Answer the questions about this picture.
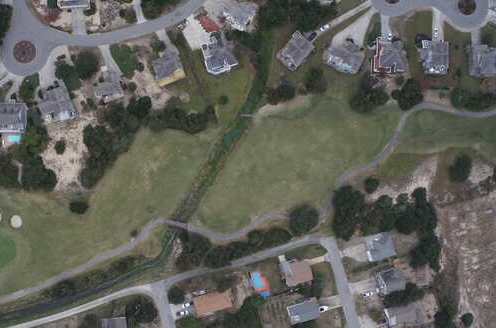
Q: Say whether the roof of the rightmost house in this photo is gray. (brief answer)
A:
Yes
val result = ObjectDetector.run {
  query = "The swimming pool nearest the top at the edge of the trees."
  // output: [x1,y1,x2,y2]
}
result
[1,133,23,148]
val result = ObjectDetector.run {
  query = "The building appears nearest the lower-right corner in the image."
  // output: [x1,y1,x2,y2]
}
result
[384,304,424,328]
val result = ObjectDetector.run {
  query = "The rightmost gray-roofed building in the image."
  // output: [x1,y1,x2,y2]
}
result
[464,43,496,80]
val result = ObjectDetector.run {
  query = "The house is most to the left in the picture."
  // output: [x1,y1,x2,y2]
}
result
[0,103,30,135]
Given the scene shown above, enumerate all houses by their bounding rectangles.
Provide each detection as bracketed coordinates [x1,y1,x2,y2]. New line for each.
[416,39,449,77]
[40,84,77,125]
[94,66,125,104]
[200,35,239,79]
[285,297,321,323]
[464,43,496,80]
[58,0,89,10]
[151,48,186,85]
[277,29,315,74]
[194,289,232,315]
[325,45,367,76]
[372,267,406,293]
[364,233,395,262]
[384,304,424,328]
[102,317,127,328]
[0,103,30,135]
[219,4,255,35]
[373,35,406,75]
[278,258,313,285]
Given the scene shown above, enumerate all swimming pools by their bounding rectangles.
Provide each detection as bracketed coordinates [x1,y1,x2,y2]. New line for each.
[252,271,270,293]
[1,133,23,148]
